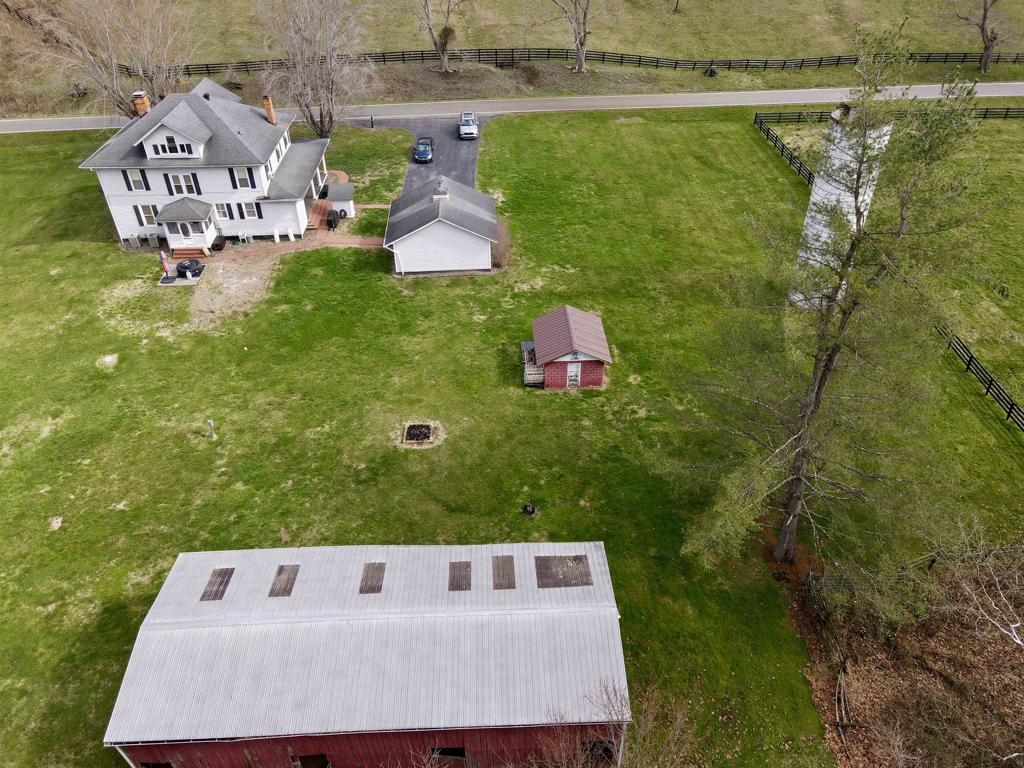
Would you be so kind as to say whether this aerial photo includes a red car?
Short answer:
No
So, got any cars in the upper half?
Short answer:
Yes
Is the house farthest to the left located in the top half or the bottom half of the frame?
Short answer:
top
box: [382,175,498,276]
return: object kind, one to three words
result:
building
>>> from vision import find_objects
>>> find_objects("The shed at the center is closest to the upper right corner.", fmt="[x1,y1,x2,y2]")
[532,304,613,389]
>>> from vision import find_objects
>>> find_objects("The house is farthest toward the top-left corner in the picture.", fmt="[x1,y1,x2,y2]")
[80,77,334,253]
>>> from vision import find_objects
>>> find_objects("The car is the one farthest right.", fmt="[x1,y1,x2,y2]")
[457,106,480,135]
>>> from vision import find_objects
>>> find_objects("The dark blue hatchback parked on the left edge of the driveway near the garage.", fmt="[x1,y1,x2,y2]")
[413,134,436,159]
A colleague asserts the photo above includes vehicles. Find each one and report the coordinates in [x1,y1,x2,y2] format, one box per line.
[457,106,480,135]
[413,134,436,159]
